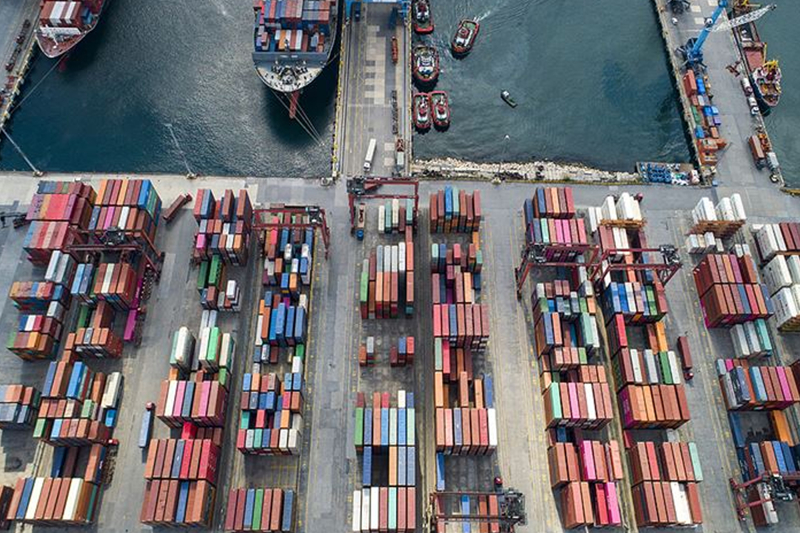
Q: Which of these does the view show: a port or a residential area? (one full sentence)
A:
What you see here is a port.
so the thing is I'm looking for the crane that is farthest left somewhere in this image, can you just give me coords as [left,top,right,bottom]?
[61,227,166,280]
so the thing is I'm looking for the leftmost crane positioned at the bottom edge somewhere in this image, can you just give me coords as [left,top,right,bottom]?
[427,488,523,530]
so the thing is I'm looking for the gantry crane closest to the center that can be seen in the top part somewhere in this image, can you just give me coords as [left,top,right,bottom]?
[346,177,420,232]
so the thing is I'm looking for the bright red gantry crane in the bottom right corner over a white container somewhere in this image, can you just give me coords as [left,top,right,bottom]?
[731,472,800,513]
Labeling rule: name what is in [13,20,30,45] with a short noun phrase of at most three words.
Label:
vehicle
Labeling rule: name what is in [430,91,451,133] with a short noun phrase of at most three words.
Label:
boat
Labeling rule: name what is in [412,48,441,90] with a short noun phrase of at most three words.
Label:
boat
